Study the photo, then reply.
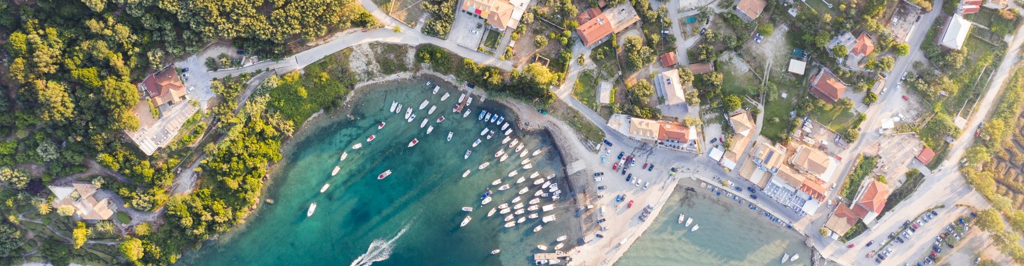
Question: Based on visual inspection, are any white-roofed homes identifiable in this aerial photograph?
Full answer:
Yes, looking at the shot, I can spot a white-roofed home.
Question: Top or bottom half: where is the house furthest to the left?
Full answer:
You can find the house furthest to the left in the bottom half.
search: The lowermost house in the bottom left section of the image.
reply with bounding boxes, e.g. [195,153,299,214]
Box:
[48,184,121,220]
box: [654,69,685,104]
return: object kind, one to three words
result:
house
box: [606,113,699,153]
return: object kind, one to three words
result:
building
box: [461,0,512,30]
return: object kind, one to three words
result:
house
